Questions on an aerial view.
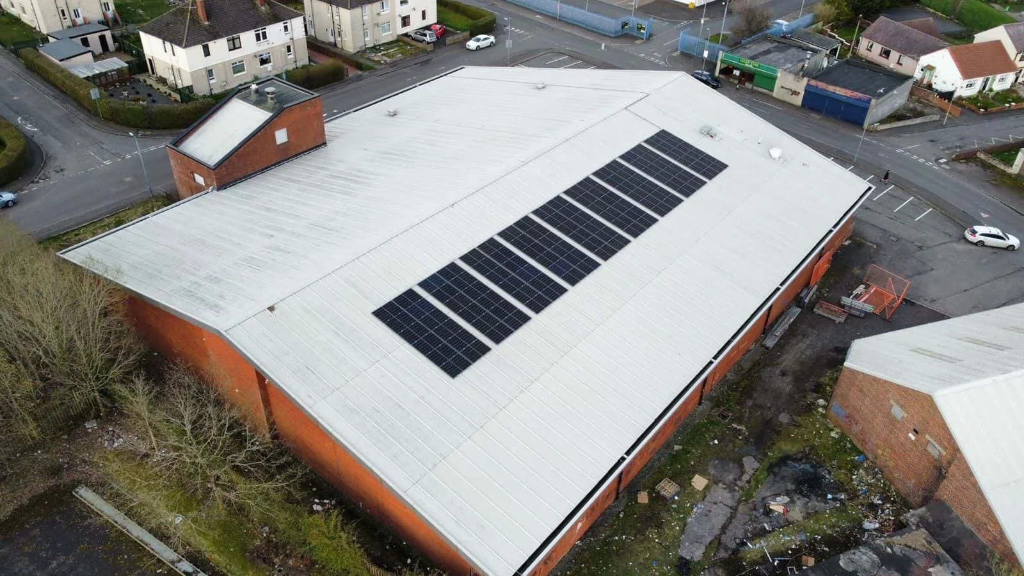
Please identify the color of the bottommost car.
white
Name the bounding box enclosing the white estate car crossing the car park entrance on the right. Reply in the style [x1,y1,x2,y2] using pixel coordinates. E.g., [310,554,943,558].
[966,225,1024,251]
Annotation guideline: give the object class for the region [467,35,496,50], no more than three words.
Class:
car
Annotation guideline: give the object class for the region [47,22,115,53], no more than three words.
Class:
shed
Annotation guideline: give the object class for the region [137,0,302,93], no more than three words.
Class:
house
